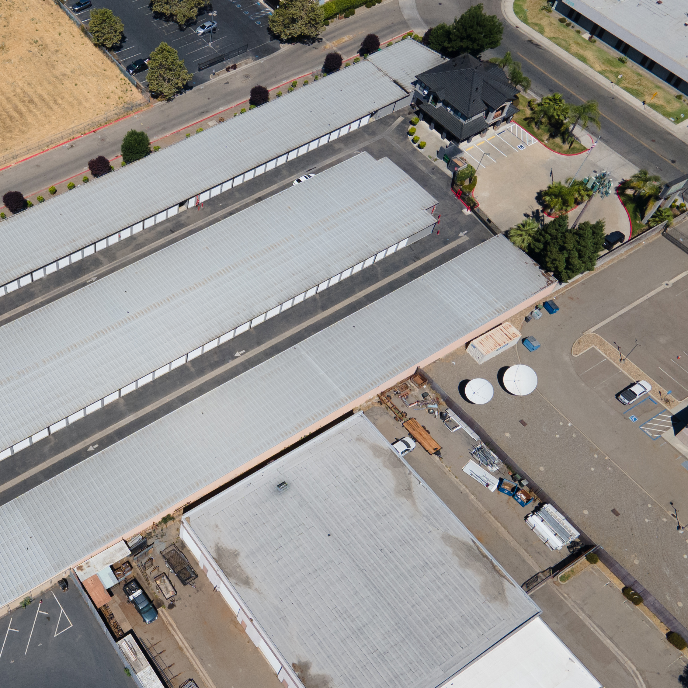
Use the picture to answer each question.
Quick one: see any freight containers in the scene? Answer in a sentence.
Yes, the image includes a freight container.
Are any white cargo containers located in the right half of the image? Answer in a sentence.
Yes, a white cargo container can be seen in the right half of the image.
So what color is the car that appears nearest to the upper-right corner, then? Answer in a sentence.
The color of the car that appears nearest to the upper-right corner is black.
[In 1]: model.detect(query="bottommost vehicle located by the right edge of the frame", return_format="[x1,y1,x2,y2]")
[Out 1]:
[612,380,655,409]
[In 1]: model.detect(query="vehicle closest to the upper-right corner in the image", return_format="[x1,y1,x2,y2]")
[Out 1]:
[601,231,627,252]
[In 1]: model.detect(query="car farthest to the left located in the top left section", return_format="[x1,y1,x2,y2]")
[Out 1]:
[69,0,95,15]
